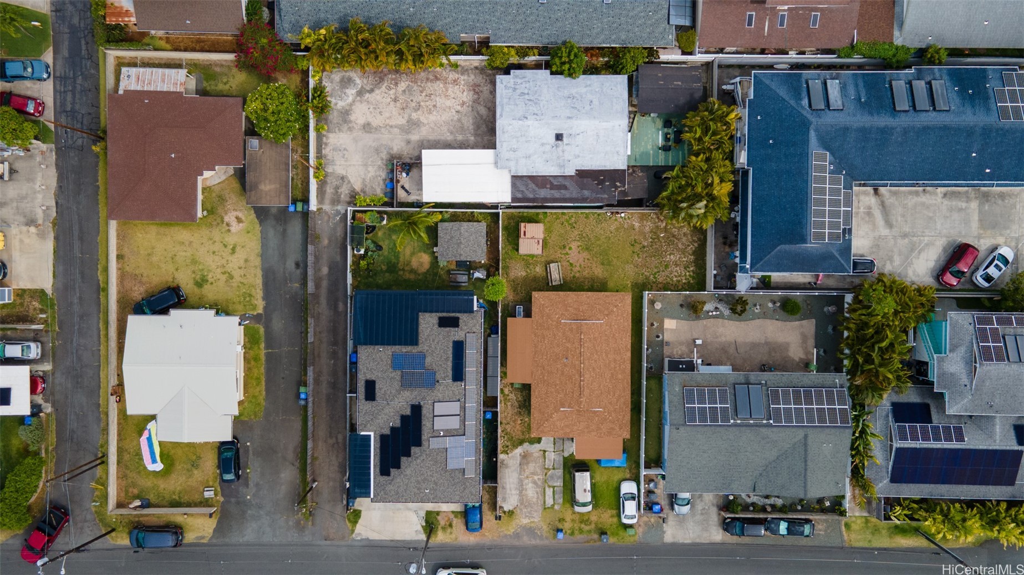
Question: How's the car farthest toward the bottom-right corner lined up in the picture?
from left to right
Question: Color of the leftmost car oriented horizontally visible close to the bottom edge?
blue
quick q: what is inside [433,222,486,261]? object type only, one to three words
shed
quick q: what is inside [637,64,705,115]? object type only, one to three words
shed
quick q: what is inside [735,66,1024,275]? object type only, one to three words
building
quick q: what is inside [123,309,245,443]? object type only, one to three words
house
